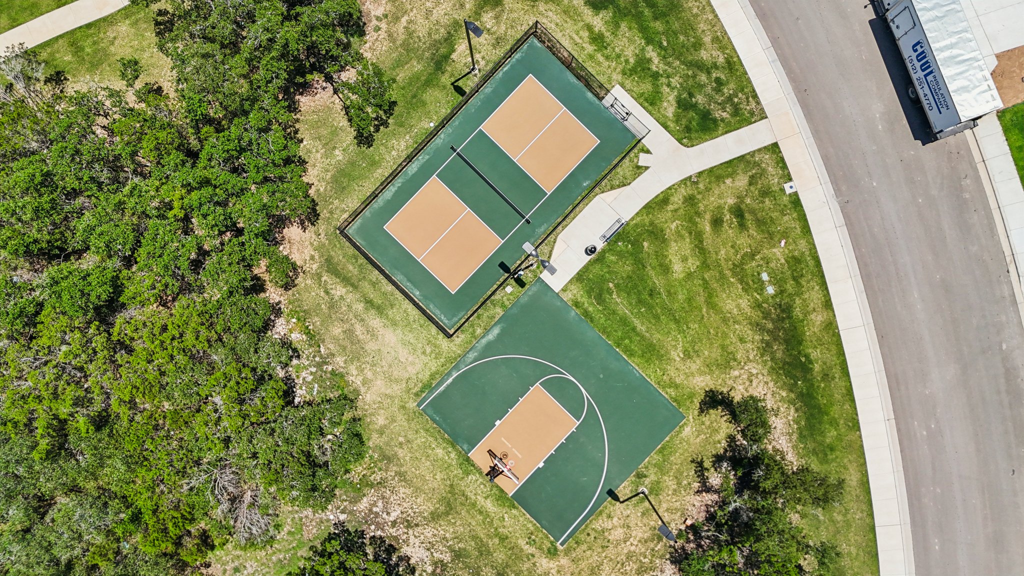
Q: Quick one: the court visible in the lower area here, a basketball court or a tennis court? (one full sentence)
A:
In the photo, the court visible in the lower area shows up as a basketball court.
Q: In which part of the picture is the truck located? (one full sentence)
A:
Look in the top right portion of the view to spot the truck.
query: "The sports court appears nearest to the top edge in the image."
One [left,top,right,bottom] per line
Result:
[345,35,636,331]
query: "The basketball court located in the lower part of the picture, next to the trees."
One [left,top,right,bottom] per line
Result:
[416,277,687,547]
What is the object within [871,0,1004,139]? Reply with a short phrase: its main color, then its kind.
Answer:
white truck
